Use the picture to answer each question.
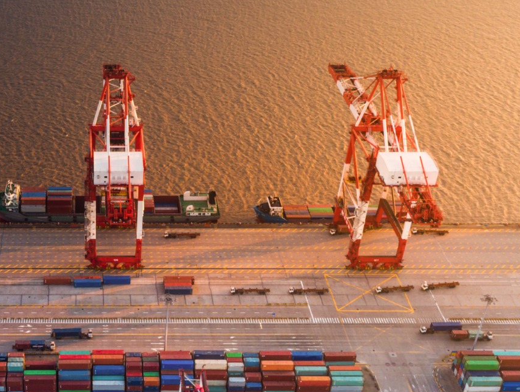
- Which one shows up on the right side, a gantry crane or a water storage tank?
gantry crane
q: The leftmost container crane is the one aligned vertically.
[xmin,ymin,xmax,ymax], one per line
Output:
[85,59,147,269]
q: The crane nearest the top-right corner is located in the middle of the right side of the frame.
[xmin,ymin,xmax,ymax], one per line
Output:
[329,59,440,269]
